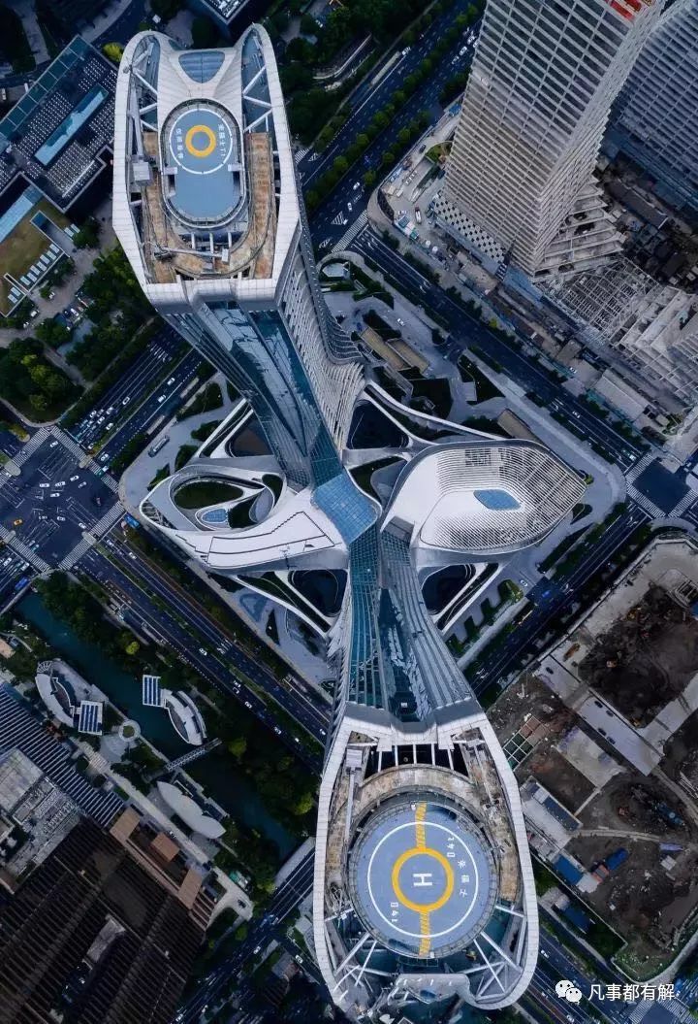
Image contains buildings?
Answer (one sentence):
Yes, there's a building here.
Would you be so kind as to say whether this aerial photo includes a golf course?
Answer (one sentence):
No, the scene contains no golf course.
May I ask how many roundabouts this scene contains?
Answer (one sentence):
Not a single roundabout can be seen.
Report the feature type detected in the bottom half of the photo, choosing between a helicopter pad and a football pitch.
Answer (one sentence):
There is a helicopter pad in the bottom half of the photo.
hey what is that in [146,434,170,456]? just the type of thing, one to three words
bus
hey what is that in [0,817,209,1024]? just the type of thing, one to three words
building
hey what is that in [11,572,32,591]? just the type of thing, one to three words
vehicle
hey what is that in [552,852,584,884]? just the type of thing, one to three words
shed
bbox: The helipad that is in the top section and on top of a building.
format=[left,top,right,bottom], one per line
[160,99,244,233]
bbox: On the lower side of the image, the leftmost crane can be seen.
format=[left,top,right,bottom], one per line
[345,744,363,842]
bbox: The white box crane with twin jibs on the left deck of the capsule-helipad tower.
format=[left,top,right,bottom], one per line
[130,105,155,188]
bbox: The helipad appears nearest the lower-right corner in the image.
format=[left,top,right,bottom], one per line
[347,790,500,965]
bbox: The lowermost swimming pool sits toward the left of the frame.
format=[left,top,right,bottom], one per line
[237,594,266,622]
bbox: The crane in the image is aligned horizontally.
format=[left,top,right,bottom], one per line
[144,240,232,268]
